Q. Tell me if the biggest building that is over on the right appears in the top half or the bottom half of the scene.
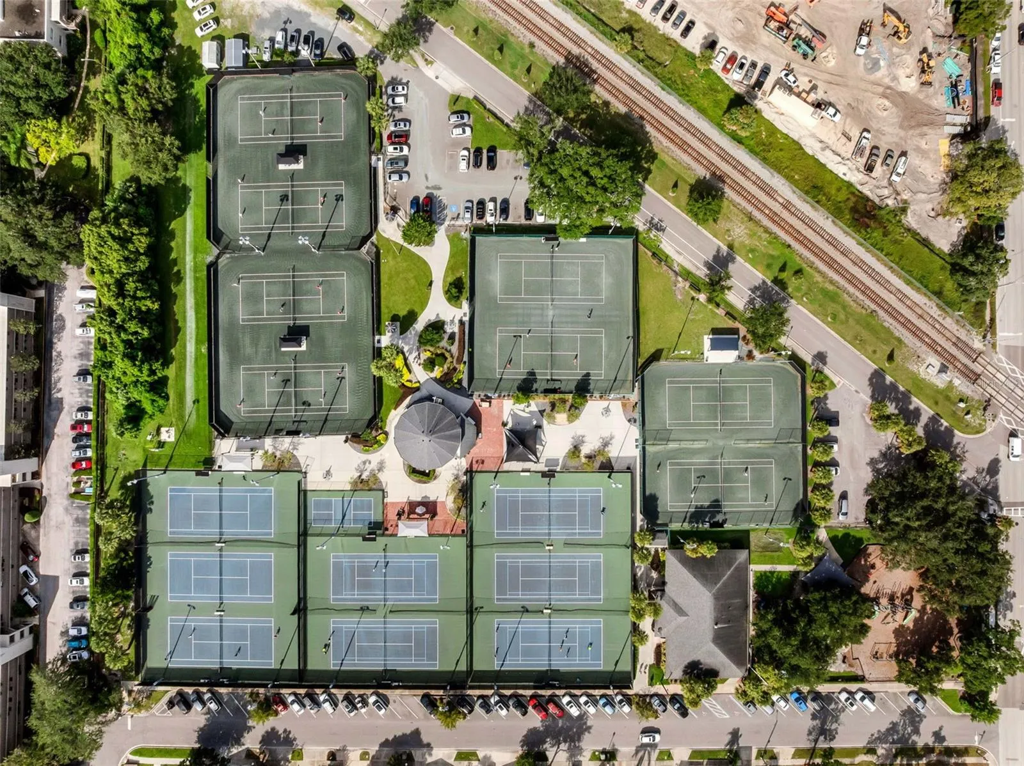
bottom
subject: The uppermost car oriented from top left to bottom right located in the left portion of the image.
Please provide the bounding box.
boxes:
[335,4,356,23]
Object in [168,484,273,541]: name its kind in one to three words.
tennis court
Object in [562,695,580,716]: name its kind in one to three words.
car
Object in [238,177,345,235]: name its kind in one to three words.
tennis court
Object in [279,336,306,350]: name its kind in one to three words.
building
